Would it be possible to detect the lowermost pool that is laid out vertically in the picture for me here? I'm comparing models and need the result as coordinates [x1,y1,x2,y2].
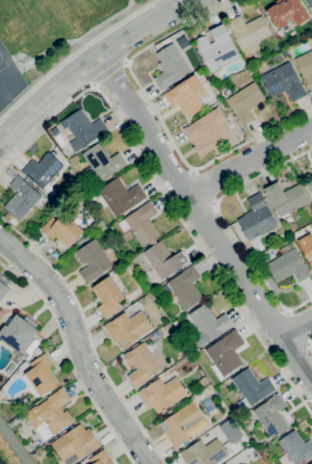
[0,346,12,370]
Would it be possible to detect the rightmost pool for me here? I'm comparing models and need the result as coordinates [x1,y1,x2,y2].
[294,42,311,56]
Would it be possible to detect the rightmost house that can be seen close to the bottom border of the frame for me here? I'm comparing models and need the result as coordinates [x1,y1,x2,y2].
[280,430,312,464]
